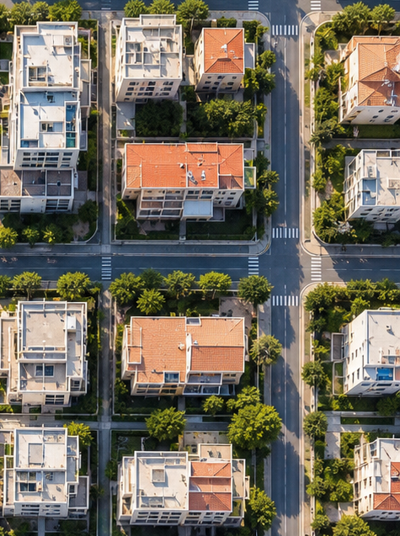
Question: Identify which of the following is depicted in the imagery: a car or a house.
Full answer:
The image shows a house.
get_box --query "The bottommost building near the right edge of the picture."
[351,423,400,525]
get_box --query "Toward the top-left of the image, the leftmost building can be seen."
[0,21,92,211]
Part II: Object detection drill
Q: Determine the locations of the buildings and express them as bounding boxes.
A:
[0,295,88,408]
[194,27,255,91]
[0,423,89,515]
[346,148,400,227]
[351,423,400,525]
[339,34,400,130]
[121,443,251,524]
[109,13,182,100]
[120,141,257,223]
[119,313,244,399]
[0,21,92,211]
[330,309,400,398]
